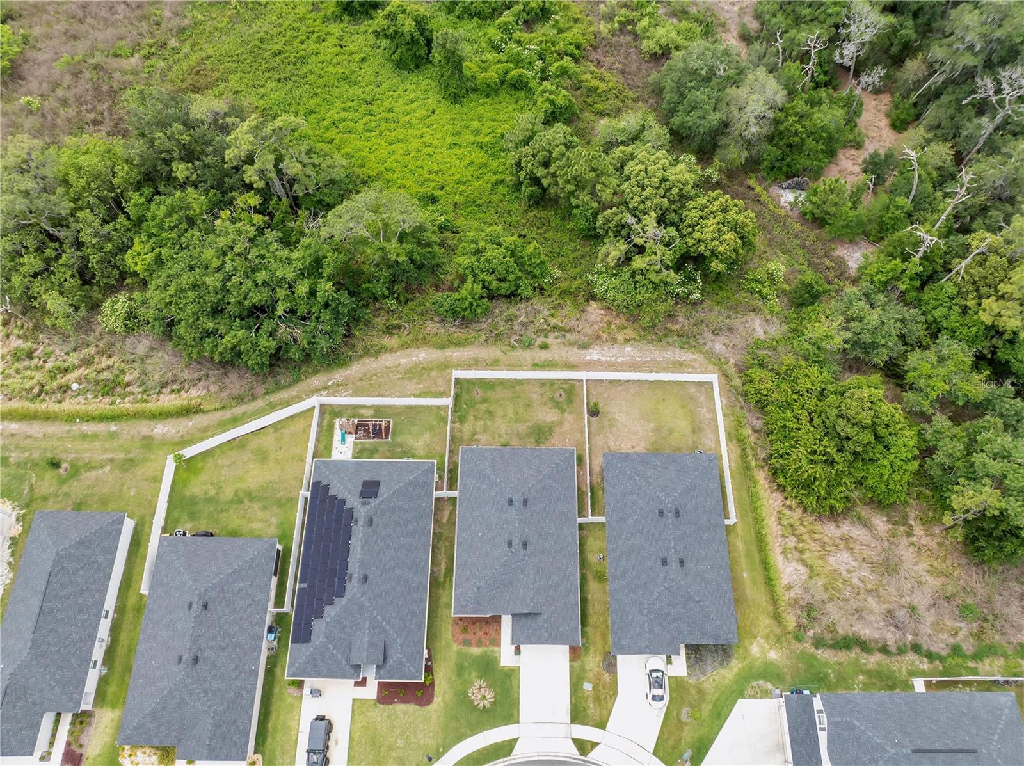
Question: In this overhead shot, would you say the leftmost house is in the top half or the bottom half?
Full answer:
The bottom half of the photo is where the leftmost house is.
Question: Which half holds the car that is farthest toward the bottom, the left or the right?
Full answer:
The car that is farthest toward the bottom is on the left side of the image.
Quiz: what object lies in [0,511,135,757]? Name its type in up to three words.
house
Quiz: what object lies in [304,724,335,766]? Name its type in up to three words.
car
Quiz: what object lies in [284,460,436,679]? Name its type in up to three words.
house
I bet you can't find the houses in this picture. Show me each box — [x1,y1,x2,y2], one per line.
[0,511,135,757]
[452,448,582,645]
[601,452,739,656]
[116,537,282,762]
[284,460,436,679]
[775,692,1024,766]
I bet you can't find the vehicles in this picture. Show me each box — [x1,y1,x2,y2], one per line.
[645,655,669,709]
[304,724,335,766]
